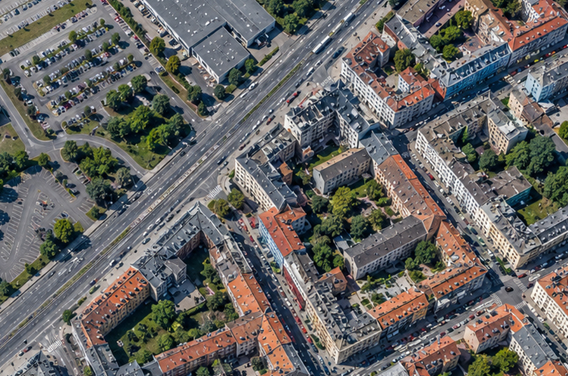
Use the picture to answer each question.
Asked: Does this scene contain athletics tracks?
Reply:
No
